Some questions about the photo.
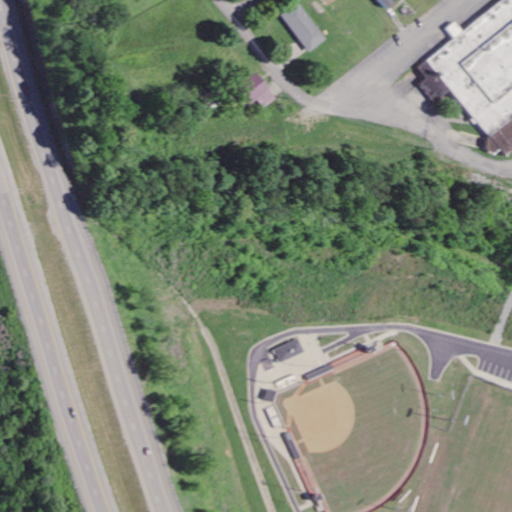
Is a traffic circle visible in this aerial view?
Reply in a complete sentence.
No, no traffic circle is visible in the scene.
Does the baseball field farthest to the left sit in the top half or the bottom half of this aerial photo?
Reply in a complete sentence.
Seen from above, the baseball field farthest to the left lies in the bottom half of the view.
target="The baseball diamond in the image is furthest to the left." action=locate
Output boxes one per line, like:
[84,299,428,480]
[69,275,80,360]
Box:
[276,342,430,512]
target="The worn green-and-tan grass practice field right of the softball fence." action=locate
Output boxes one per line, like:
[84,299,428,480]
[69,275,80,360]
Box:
[441,380,512,512]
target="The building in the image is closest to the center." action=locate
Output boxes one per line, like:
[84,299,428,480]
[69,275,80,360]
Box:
[276,339,300,362]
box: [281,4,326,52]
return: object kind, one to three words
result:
house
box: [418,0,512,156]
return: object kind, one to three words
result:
building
